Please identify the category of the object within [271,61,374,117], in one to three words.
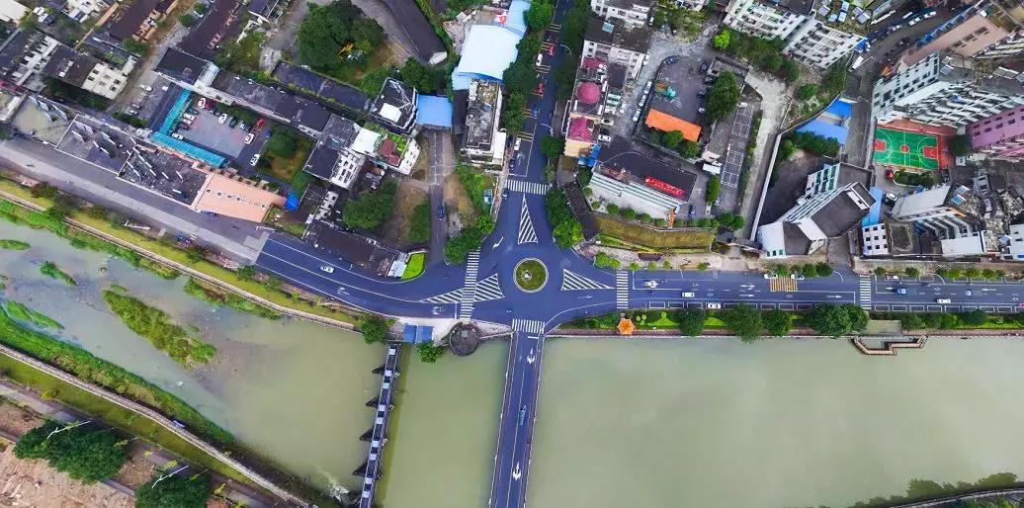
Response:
building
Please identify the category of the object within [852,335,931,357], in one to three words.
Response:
pier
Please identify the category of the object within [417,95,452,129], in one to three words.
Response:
shed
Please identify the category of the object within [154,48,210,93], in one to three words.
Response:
house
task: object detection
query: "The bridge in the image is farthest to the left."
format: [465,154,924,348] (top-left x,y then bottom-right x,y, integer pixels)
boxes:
[362,344,402,508]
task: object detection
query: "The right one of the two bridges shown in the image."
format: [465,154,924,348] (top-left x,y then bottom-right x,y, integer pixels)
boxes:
[489,332,544,508]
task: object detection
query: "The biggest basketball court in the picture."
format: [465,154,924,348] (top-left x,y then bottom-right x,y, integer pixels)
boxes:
[873,123,957,170]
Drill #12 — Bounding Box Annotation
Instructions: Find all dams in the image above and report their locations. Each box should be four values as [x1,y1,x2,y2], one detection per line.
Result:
[350,337,413,508]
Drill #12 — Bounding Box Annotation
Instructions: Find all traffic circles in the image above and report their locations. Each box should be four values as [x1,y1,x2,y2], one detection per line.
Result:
[514,258,548,292]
